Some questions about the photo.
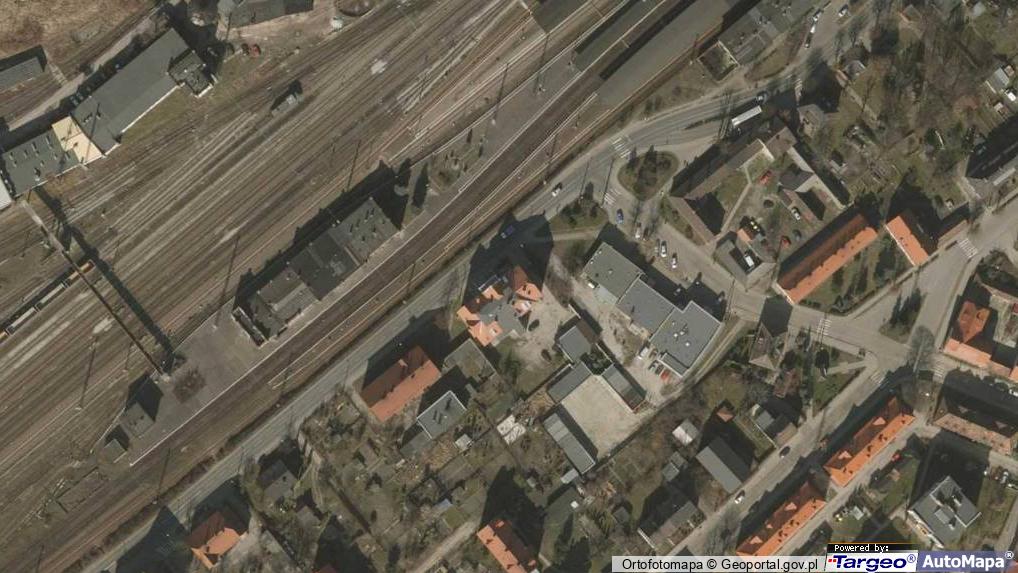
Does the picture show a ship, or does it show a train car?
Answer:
train car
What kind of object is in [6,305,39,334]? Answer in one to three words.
rail car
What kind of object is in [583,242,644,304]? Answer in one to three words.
building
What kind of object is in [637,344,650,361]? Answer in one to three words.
vehicle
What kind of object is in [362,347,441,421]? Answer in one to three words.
house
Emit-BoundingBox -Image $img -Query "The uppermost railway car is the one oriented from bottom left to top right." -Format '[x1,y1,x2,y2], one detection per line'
[65,258,94,286]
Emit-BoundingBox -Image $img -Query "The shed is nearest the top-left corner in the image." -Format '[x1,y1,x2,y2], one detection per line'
[0,57,45,96]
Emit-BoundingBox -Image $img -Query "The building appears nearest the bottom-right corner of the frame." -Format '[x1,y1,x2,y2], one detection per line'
[903,476,981,548]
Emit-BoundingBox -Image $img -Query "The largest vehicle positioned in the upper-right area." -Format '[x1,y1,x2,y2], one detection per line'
[730,104,764,125]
